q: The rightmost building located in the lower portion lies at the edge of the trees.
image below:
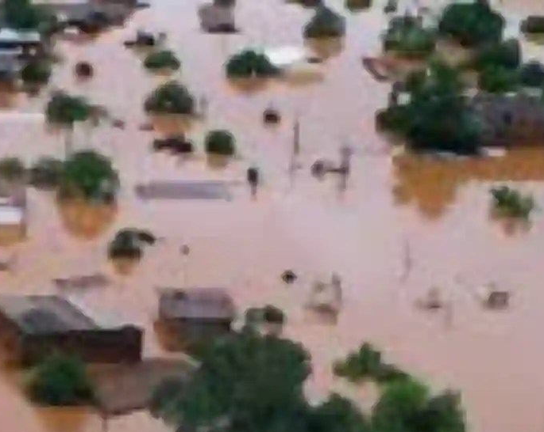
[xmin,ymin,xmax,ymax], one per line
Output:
[148,288,236,343]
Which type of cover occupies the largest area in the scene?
water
